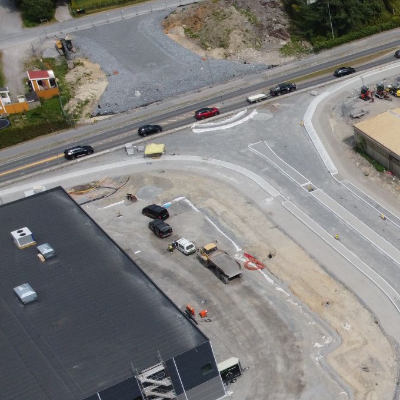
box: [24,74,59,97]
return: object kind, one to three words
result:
building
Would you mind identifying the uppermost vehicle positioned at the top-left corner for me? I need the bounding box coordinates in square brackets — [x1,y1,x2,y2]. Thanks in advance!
[57,38,70,53]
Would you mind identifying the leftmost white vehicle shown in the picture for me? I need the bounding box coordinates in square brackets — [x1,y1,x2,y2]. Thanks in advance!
[171,236,197,255]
